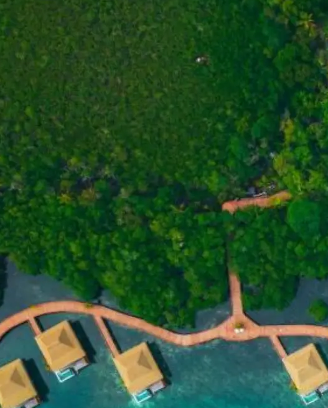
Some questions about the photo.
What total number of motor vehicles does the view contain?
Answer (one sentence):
There are no motor vehicles in this view.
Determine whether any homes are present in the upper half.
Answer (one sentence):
No, no home can be made out in the upper half.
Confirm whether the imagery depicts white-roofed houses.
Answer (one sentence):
No, the scene contains no white-roofed house.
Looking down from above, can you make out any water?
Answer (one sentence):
Yes, water can be seen from above here.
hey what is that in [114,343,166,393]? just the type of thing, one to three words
house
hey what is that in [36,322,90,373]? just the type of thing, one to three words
house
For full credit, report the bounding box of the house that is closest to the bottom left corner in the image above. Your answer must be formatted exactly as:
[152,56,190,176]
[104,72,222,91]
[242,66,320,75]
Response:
[0,359,42,408]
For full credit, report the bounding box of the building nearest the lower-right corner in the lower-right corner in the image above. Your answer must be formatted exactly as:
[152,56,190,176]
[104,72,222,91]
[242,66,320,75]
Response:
[282,344,328,394]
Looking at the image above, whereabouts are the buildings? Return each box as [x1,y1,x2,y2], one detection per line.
[0,359,42,408]
[282,344,328,394]
[36,322,90,373]
[114,343,166,393]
